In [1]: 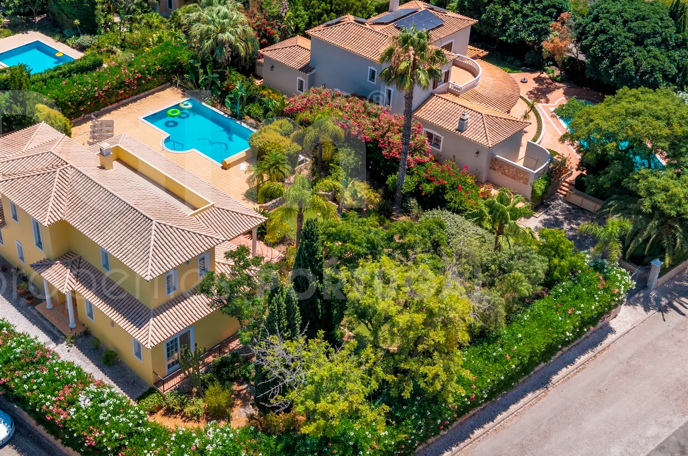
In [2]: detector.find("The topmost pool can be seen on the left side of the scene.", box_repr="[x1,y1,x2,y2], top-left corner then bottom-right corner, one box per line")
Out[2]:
[0,37,77,73]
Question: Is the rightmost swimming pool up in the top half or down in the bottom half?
top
